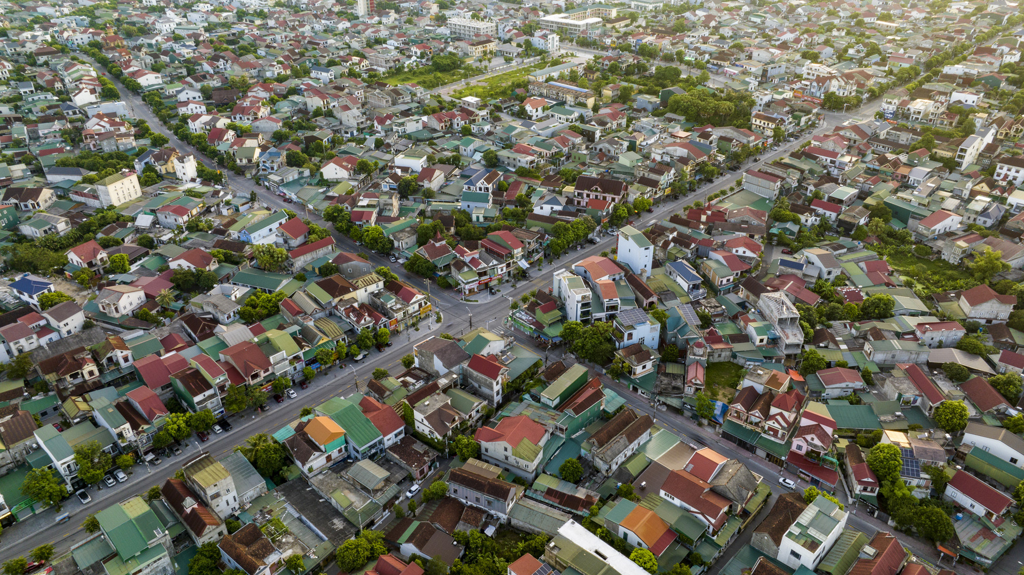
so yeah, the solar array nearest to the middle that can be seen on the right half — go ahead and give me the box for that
[616,308,649,326]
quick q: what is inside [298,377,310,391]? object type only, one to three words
vehicle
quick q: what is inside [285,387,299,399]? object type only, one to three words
vehicle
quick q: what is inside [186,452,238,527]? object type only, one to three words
house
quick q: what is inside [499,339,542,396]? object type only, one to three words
shed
